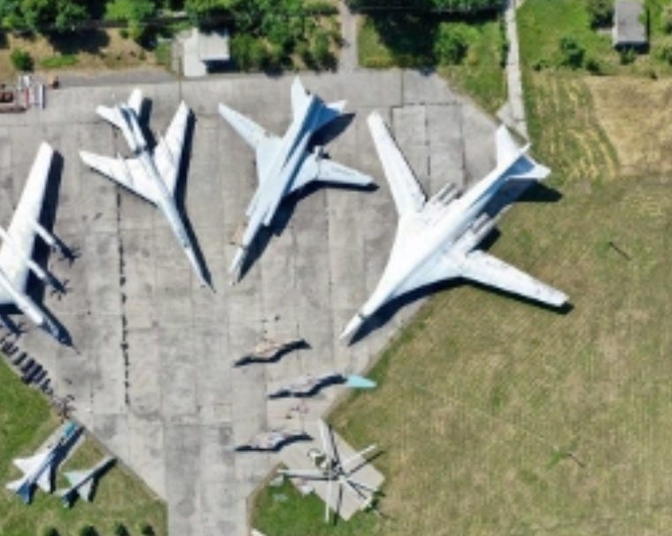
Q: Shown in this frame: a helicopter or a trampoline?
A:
helicopter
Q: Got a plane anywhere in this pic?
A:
Yes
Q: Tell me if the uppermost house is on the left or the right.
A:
right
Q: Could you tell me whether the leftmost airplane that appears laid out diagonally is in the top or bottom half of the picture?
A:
bottom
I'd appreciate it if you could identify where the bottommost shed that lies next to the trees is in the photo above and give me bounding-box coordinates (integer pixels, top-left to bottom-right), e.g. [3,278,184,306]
[200,33,229,60]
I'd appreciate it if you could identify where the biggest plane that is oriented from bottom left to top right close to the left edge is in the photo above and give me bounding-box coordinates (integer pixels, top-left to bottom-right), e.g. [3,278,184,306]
[4,421,80,504]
